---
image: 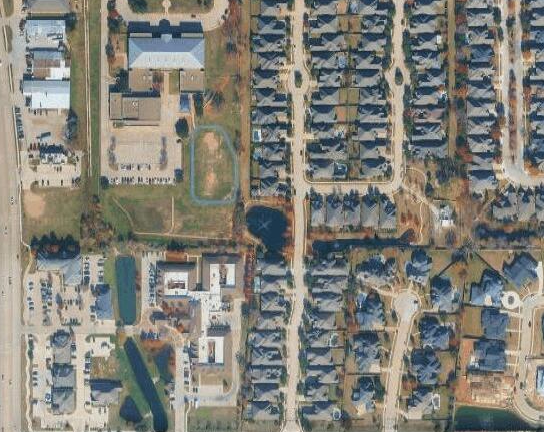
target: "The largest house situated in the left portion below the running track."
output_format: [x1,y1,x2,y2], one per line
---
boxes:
[155,253,243,371]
